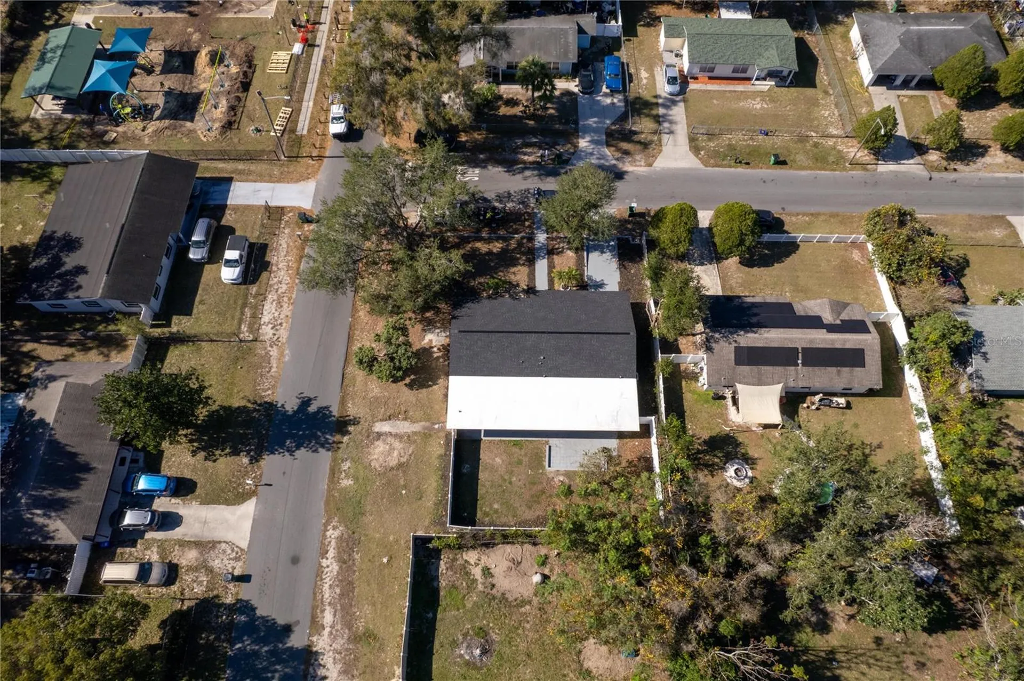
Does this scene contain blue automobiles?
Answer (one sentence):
Yes, I can see a blue automobile in this picture.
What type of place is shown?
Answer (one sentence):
The picture captures a residential area.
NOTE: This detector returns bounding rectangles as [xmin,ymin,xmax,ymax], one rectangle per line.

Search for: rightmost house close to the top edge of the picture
[848,11,1007,90]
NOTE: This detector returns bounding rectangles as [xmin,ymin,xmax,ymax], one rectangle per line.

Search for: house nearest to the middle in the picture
[446,291,642,440]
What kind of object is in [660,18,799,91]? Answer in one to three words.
house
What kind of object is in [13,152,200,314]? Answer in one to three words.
house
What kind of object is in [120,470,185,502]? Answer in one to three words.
car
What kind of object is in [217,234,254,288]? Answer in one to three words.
truck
